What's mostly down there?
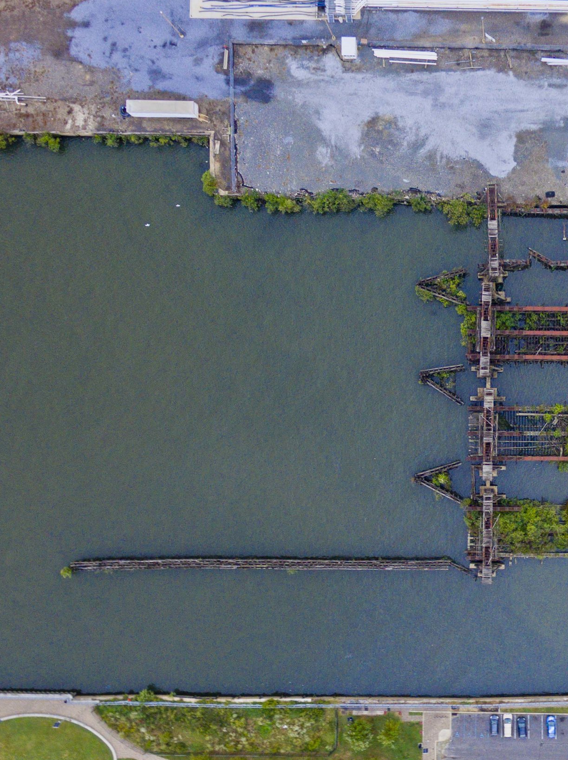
water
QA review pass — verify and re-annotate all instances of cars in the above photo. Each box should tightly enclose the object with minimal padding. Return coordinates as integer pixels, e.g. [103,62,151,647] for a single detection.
[517,716,527,740]
[546,715,557,738]
[502,713,512,738]
[490,715,500,736]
